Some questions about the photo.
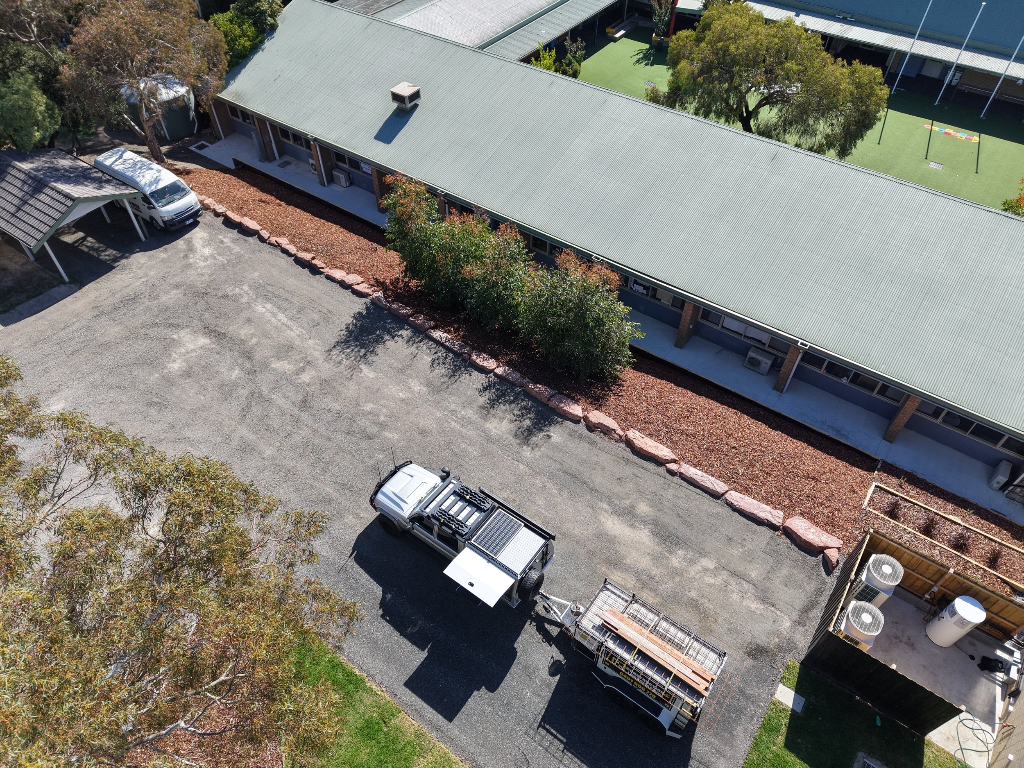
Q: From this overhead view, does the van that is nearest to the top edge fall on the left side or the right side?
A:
left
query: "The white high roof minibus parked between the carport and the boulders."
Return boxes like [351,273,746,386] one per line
[95,153,197,229]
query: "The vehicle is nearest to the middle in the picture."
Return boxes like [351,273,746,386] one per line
[372,445,558,607]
